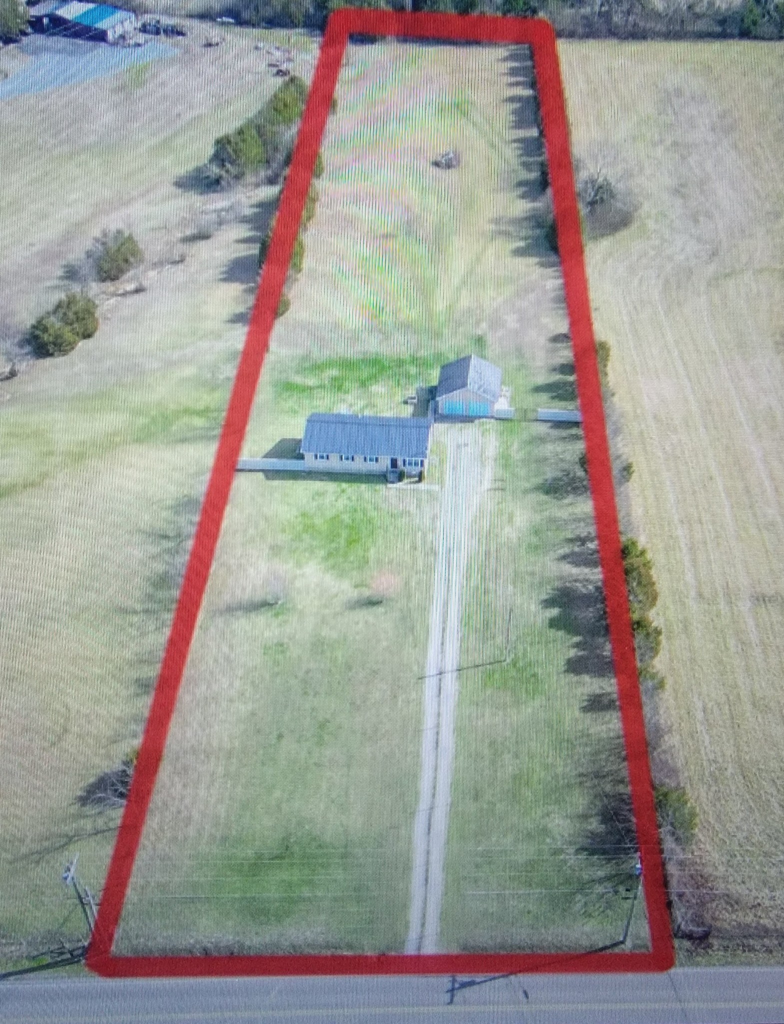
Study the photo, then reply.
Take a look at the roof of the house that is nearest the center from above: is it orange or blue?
blue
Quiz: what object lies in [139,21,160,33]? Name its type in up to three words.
vehicle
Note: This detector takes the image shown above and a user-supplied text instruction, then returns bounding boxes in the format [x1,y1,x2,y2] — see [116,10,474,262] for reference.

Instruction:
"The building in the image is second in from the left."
[300,413,429,475]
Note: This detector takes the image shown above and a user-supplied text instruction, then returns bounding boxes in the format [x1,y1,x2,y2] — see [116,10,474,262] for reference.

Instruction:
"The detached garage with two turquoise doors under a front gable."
[434,353,499,420]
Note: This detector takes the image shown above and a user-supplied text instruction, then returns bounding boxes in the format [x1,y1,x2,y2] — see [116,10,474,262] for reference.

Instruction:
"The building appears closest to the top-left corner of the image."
[23,0,130,41]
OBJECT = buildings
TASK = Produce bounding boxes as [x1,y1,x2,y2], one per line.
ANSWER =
[434,353,499,420]
[23,0,130,41]
[300,413,429,475]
